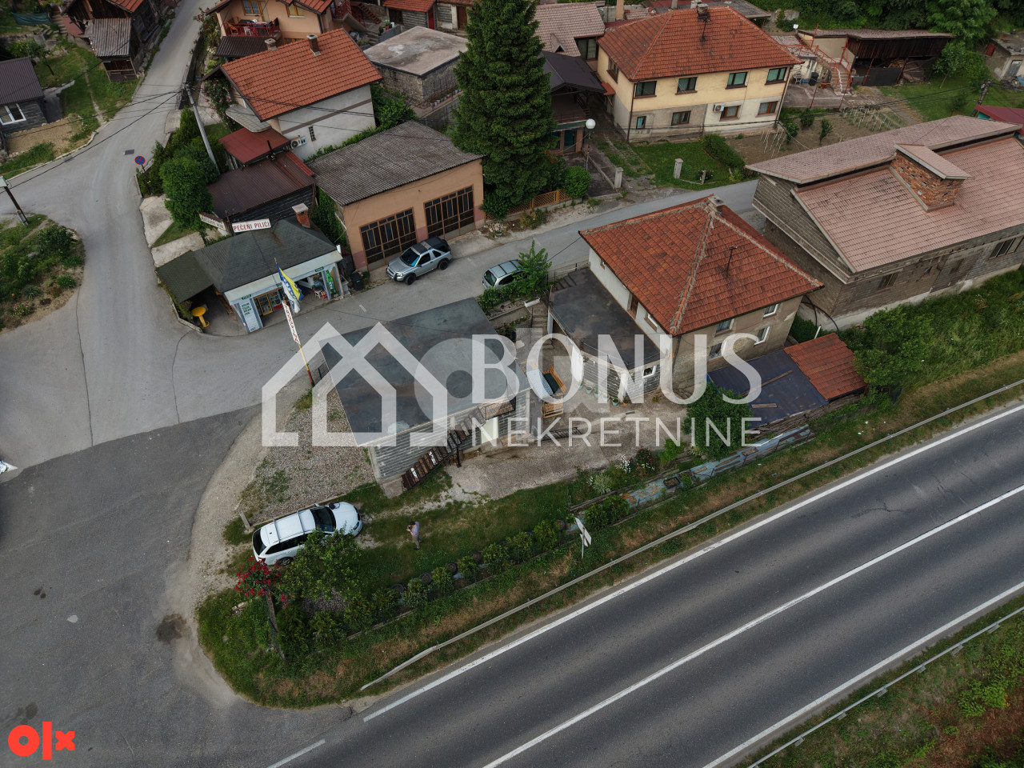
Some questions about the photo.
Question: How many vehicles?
3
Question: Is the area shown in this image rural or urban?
urban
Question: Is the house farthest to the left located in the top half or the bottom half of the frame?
top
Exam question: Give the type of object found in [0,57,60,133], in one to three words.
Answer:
house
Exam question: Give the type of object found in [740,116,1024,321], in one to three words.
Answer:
building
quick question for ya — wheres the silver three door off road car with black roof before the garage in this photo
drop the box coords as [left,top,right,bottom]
[378,232,455,287]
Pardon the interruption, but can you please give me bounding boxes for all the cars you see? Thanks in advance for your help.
[484,254,536,295]
[248,507,365,574]
[378,232,455,287]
